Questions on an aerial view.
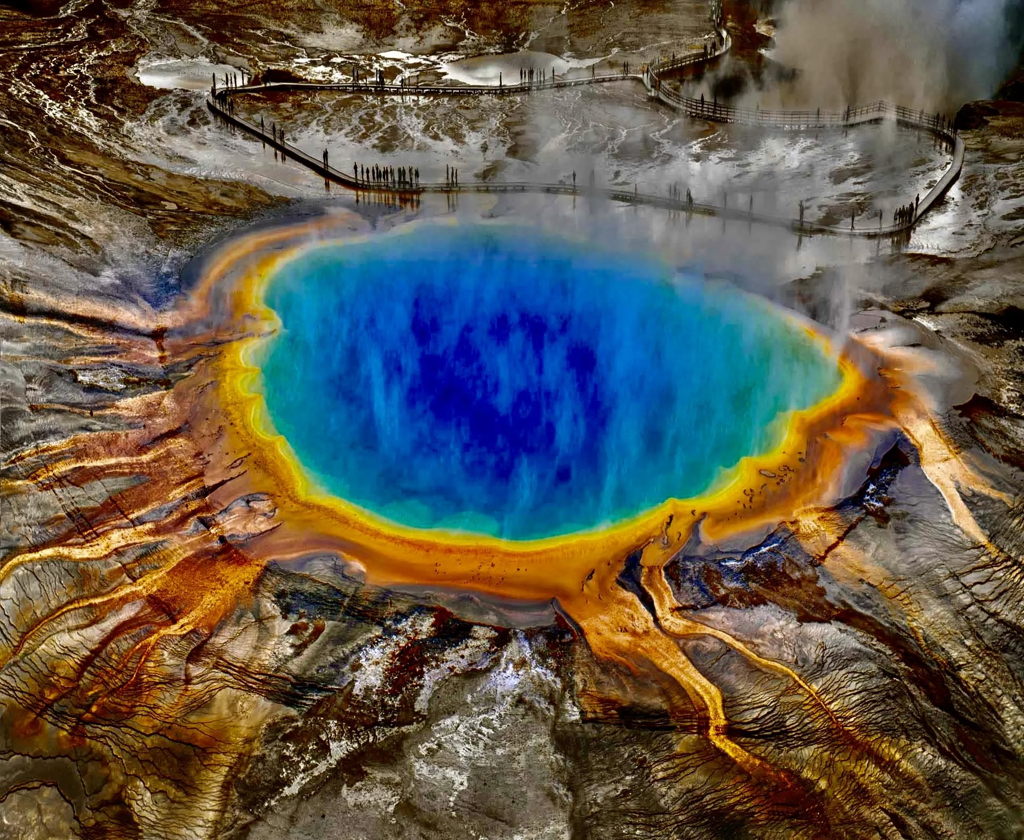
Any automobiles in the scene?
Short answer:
No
